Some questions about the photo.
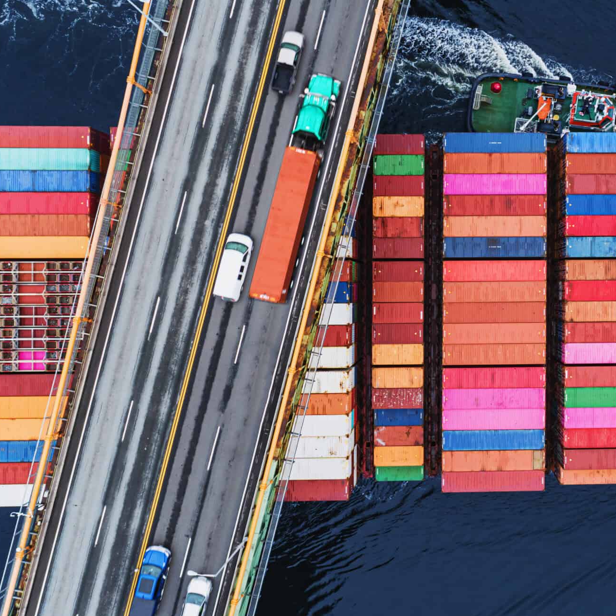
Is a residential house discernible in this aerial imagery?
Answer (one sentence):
No, this view has no residential house in it.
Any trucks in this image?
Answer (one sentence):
Yes, a truck is visible in the scene.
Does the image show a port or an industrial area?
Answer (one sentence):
It's a port.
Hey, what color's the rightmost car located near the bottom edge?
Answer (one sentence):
The rightmost car located near the bottom edge looks white in the image.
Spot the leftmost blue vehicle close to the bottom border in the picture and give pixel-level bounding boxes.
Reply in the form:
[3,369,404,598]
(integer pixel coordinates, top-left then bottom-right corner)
[130,543,174,616]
